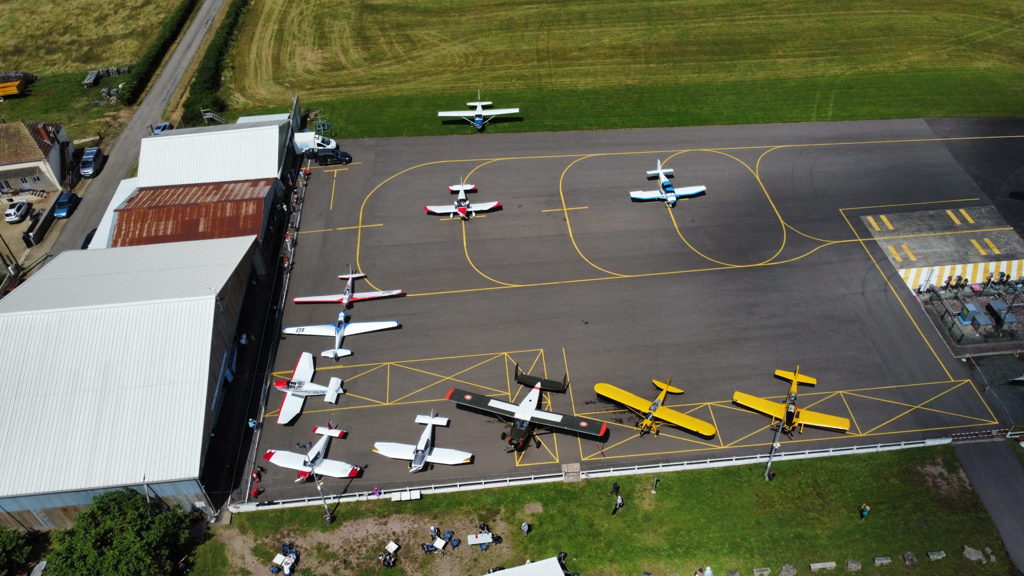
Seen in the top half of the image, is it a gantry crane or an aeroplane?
aeroplane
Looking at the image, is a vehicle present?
Yes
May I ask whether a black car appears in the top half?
Yes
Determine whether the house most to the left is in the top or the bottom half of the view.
top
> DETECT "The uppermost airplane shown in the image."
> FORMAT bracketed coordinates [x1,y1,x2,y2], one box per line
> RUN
[437,92,520,134]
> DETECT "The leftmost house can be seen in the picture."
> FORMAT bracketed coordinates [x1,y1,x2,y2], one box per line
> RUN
[0,120,90,203]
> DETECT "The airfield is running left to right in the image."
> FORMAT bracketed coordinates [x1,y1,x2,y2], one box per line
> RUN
[221,116,1024,512]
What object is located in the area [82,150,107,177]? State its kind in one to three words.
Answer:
vehicle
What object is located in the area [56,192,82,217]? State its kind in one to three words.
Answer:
car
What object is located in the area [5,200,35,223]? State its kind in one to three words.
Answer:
car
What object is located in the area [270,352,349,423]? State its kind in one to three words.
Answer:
airplane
